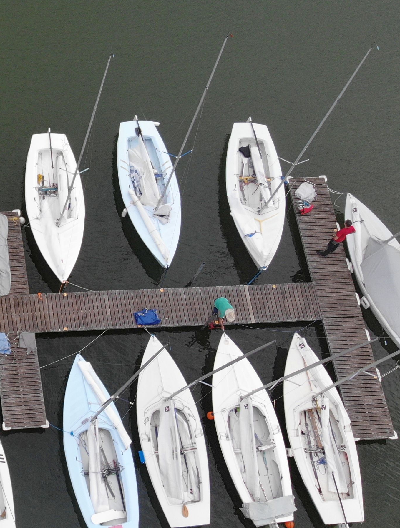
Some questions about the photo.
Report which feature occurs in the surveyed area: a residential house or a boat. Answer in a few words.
boat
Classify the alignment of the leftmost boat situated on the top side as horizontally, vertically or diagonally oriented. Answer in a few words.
vertically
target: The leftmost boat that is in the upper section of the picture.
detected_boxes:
[27,52,113,282]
